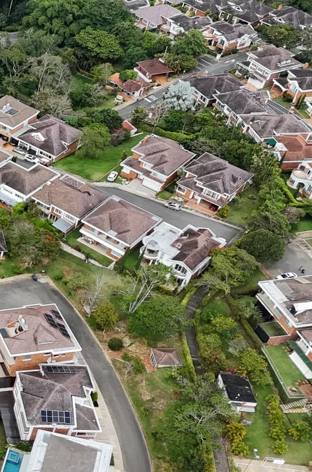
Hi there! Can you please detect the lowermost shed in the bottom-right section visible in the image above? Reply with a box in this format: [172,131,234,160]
[215,374,258,411]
